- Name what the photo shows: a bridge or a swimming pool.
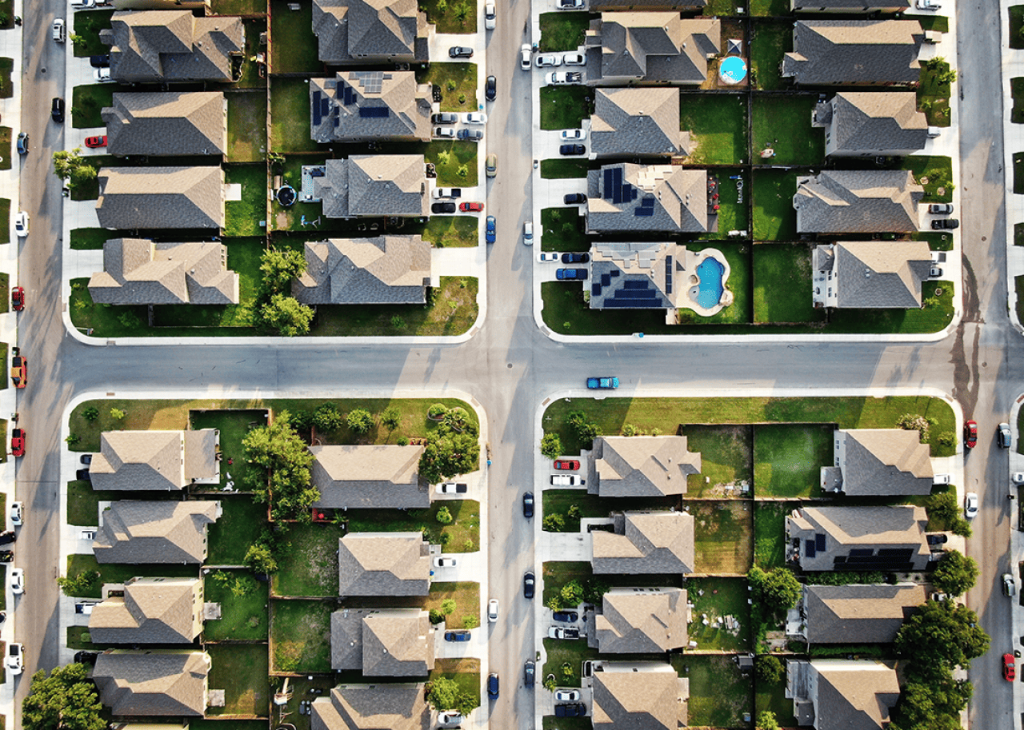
swimming pool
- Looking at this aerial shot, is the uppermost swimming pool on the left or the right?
right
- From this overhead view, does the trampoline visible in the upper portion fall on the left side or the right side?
left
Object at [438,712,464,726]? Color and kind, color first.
white car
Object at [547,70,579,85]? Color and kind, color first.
white vehicle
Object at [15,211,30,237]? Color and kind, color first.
white car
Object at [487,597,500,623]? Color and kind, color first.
white vehicle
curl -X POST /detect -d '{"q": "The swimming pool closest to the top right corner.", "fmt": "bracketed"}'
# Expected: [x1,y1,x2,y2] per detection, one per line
[719,56,748,85]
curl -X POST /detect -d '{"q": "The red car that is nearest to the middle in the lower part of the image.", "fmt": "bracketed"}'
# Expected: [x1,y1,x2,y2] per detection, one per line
[554,459,580,471]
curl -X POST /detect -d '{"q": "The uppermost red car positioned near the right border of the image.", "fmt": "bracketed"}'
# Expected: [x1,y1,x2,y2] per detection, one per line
[963,421,978,447]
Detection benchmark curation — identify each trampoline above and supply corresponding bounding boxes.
[275,183,297,205]
[275,720,296,730]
